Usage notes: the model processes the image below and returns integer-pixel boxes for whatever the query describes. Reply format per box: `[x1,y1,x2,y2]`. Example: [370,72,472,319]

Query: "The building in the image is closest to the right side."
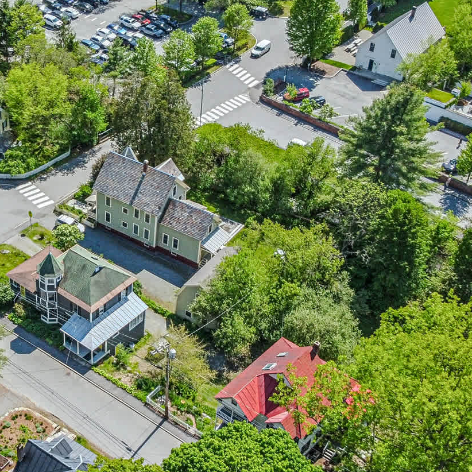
[345,1,446,82]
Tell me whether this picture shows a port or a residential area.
residential area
